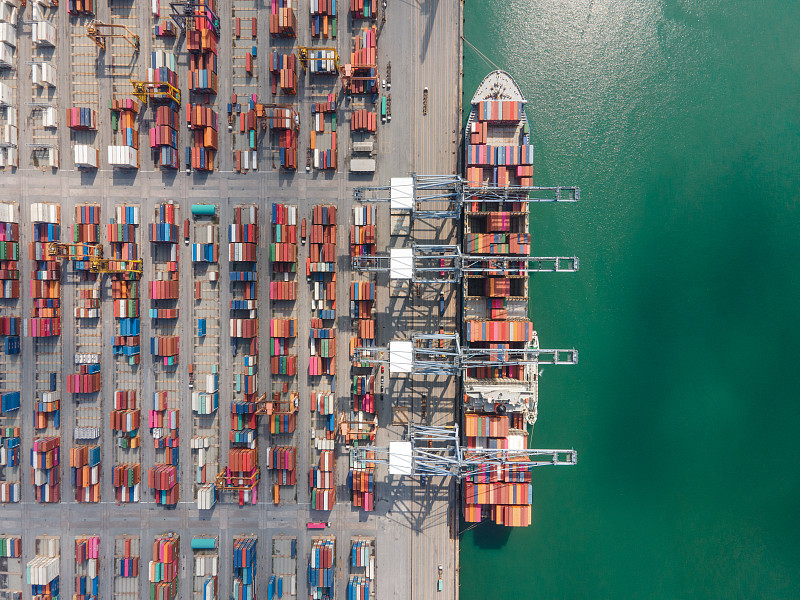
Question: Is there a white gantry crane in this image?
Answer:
Yes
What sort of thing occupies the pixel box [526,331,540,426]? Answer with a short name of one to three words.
ship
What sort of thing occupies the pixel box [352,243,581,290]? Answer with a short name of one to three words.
container crane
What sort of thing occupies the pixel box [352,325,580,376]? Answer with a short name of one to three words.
container crane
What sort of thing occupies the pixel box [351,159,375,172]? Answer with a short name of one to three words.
building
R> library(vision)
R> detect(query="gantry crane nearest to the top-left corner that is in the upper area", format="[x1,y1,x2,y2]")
[82,22,141,52]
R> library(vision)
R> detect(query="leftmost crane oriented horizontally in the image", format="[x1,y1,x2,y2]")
[41,242,102,262]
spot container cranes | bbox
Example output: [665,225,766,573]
[352,412,580,475]
[255,104,302,130]
[338,412,380,435]
[255,393,301,416]
[84,257,142,276]
[338,64,381,92]
[352,325,580,376]
[82,22,141,52]
[352,243,581,290]
[353,172,582,228]
[170,2,222,34]
[294,46,341,76]
[125,77,182,105]
[41,242,102,262]
[209,465,262,491]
